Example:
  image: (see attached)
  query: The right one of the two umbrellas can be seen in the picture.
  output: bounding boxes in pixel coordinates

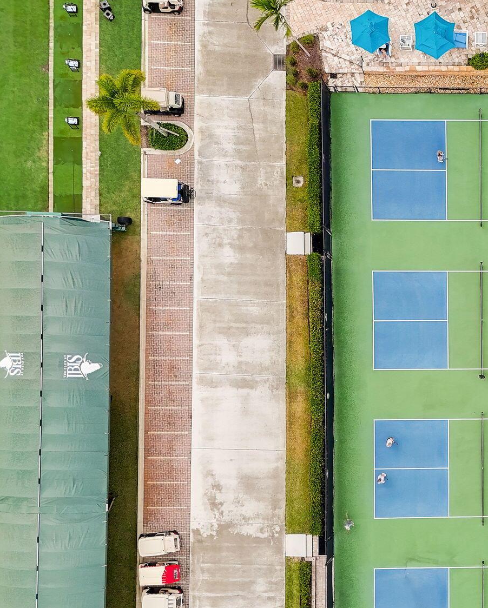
[414,12,456,60]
